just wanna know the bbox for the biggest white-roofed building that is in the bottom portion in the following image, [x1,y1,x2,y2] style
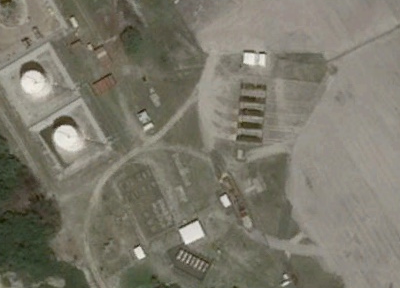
[178,220,205,246]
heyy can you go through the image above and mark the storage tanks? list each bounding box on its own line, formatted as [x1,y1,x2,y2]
[53,124,84,155]
[20,70,52,101]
